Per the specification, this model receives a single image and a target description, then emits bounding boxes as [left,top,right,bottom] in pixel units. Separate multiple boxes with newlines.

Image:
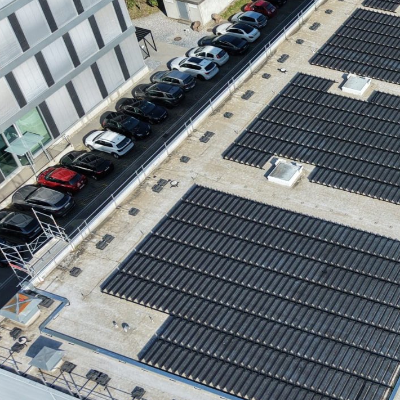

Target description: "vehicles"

[80,130,134,161]
[135,83,185,111]
[153,71,197,96]
[243,0,278,20]
[199,34,247,58]
[0,237,20,270]
[13,188,74,223]
[115,96,170,128]
[214,22,261,45]
[0,210,49,246]
[39,168,92,201]
[191,46,228,69]
[171,57,218,83]
[59,150,117,183]
[262,0,289,11]
[99,113,151,142]
[227,8,269,33]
